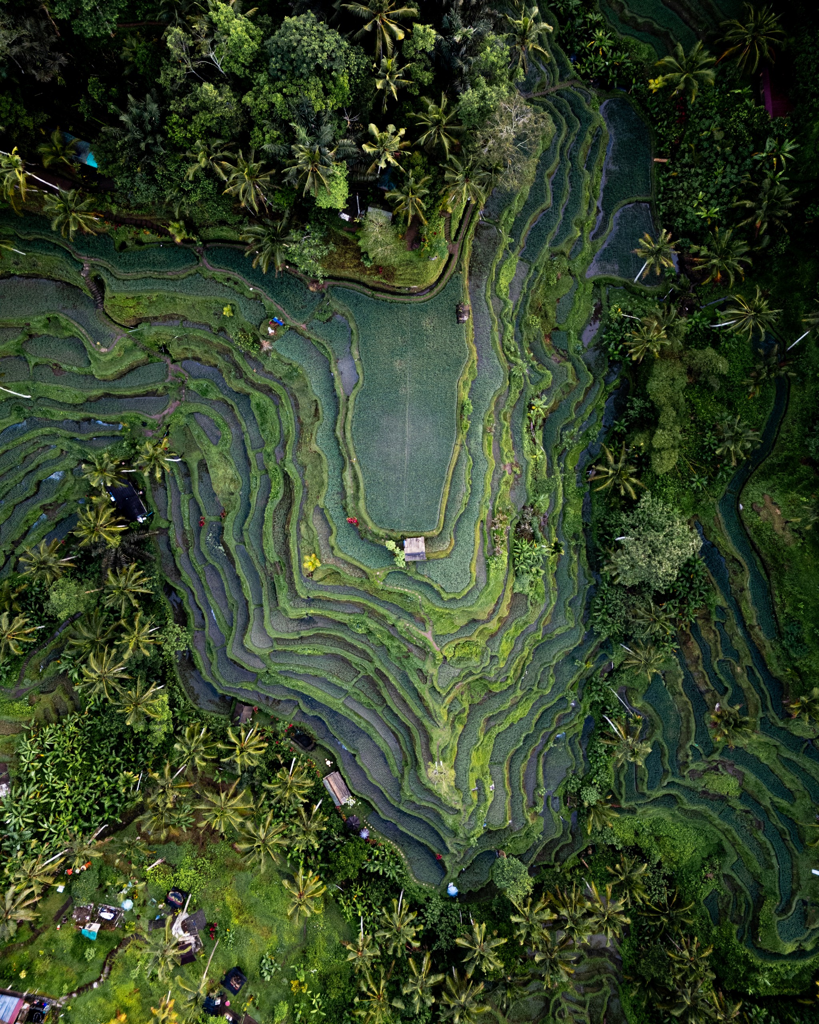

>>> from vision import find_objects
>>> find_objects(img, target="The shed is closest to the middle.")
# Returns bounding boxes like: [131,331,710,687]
[405,537,426,561]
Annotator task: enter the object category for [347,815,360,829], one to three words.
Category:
umbrella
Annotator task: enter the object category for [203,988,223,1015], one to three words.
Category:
shed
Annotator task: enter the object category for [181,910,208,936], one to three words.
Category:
shed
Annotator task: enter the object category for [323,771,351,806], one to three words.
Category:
building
